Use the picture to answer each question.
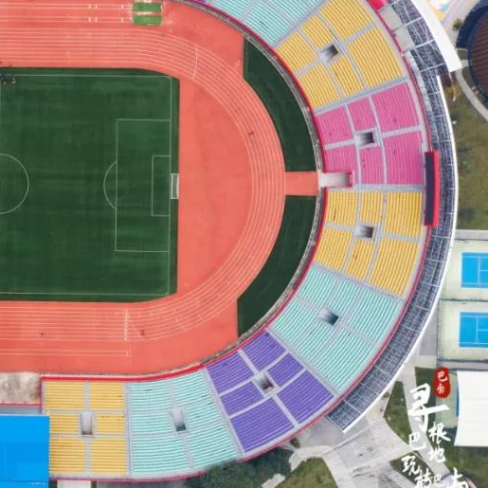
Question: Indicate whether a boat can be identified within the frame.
No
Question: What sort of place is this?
sports ground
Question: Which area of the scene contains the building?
top right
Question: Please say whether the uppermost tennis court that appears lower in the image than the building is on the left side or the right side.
right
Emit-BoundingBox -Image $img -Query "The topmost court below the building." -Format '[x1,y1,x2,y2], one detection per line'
[447,238,488,299]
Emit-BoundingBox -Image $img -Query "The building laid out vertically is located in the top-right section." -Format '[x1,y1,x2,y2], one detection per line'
[450,0,488,94]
